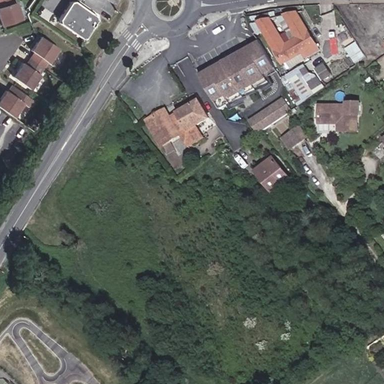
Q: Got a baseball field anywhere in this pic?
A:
No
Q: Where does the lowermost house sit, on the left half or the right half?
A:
right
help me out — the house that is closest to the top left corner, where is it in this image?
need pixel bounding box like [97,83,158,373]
[0,0,26,28]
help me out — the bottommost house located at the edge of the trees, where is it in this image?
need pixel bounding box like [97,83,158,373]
[252,154,288,192]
